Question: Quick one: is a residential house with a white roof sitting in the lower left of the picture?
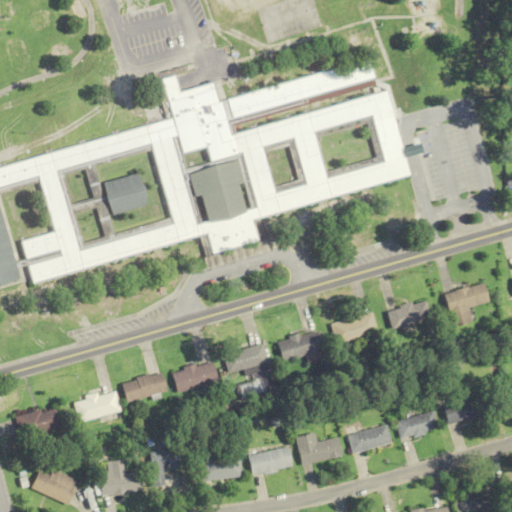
Yes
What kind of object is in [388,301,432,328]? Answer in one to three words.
house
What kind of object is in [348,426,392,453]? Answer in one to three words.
house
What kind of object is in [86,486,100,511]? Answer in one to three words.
camper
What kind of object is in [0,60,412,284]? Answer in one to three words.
building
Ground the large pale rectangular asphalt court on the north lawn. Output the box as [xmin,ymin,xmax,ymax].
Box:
[258,0,322,44]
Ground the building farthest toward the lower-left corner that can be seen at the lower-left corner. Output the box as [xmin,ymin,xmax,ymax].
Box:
[32,470,76,504]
